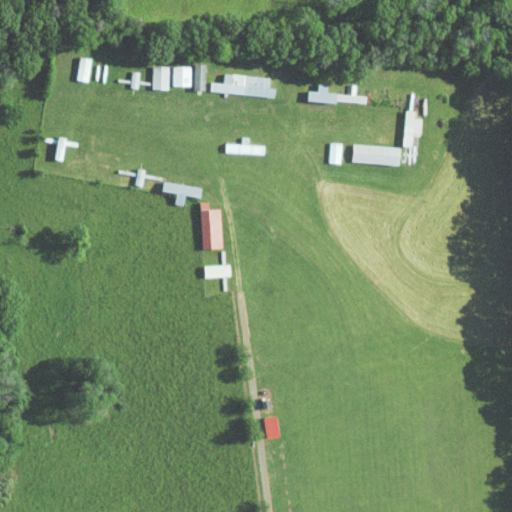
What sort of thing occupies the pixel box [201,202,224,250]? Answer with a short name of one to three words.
barn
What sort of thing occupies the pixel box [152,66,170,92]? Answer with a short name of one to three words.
hangar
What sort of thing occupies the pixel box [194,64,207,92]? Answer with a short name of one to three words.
shed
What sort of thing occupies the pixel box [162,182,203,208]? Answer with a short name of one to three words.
hangar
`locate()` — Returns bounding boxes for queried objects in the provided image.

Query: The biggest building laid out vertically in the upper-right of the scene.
[404,92,424,148]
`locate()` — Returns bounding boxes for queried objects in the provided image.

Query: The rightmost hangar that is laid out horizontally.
[352,144,402,166]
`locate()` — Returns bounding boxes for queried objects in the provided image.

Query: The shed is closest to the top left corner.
[78,58,92,84]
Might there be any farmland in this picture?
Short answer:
Yes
